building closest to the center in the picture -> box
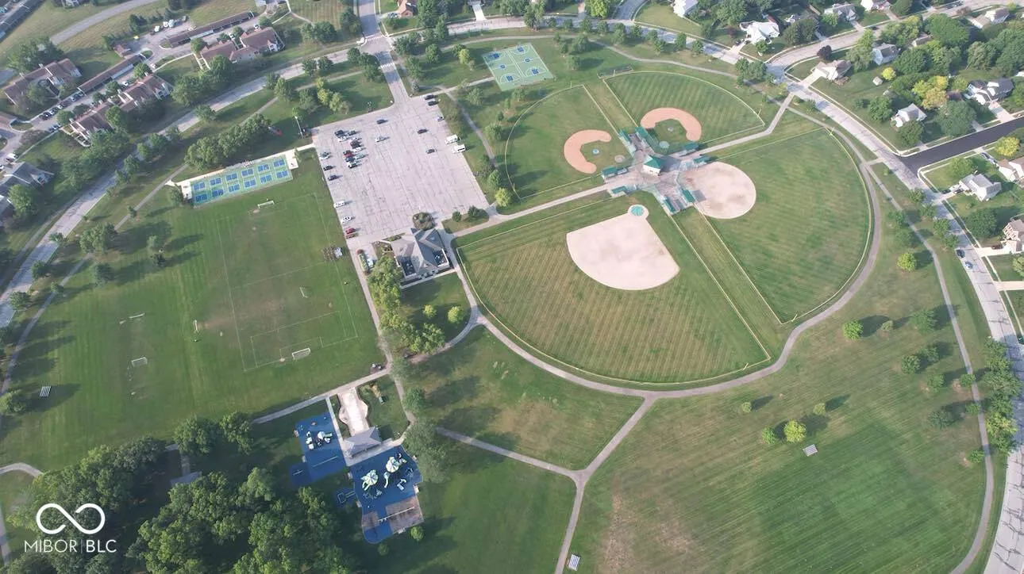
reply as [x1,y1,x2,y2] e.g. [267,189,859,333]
[391,229,448,279]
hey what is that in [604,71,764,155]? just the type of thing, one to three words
baseball field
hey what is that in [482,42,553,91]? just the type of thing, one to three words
basketball court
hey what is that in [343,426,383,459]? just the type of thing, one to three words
building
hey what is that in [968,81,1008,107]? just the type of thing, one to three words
house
